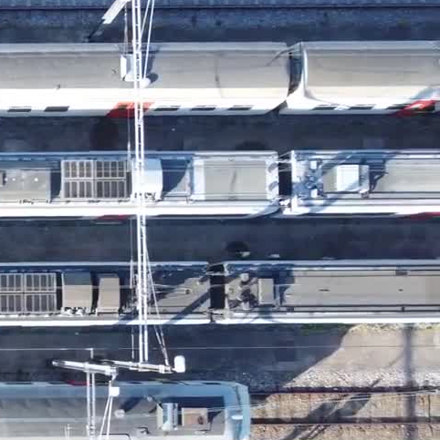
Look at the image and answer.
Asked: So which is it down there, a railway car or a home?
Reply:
railway car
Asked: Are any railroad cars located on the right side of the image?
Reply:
Yes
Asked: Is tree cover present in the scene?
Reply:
No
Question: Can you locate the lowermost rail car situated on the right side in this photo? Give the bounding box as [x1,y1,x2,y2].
[209,261,440,325]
